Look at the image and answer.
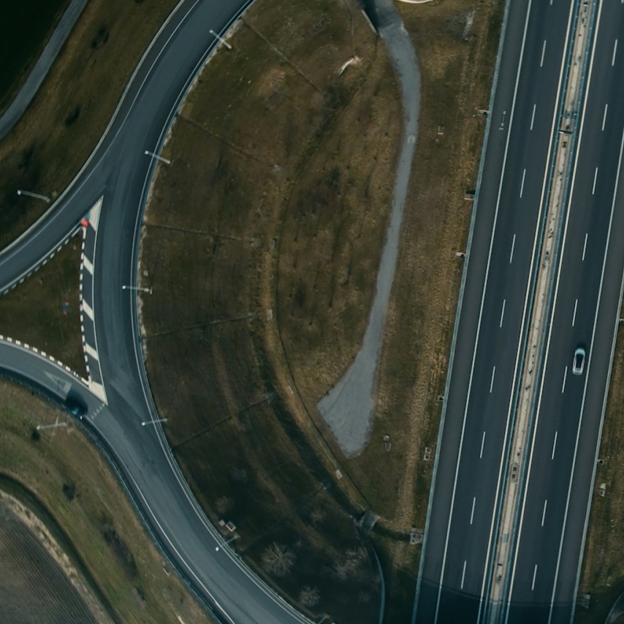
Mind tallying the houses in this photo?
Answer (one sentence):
No houses are visible.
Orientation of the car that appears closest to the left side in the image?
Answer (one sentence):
I'd say the car that appears closest to the left side is aligned diagonally in the picture.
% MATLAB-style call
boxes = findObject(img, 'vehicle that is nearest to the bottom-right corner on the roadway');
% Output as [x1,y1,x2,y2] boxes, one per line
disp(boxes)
[574,347,586,375]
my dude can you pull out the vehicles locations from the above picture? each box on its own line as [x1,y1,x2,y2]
[64,394,90,419]
[574,347,586,375]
